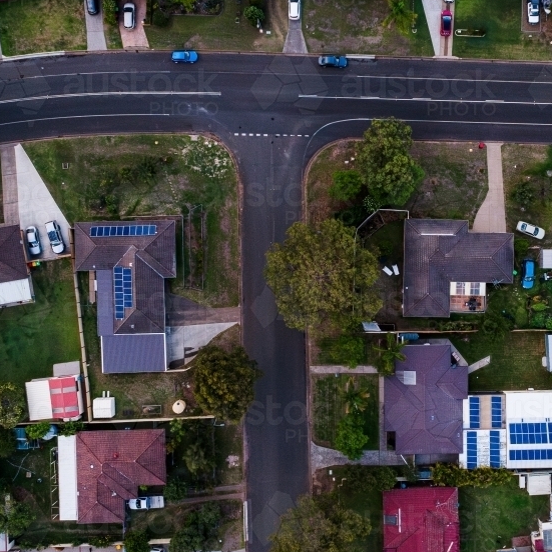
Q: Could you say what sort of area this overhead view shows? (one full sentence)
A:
What you see here is a residential area.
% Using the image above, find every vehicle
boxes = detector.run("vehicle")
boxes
[129,495,165,511]
[171,50,198,64]
[516,220,545,239]
[440,11,453,37]
[45,221,65,254]
[287,0,300,21]
[526,0,540,24]
[521,258,535,288]
[25,227,42,256]
[318,55,347,67]
[86,0,100,17]
[122,4,136,30]
[147,546,167,552]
